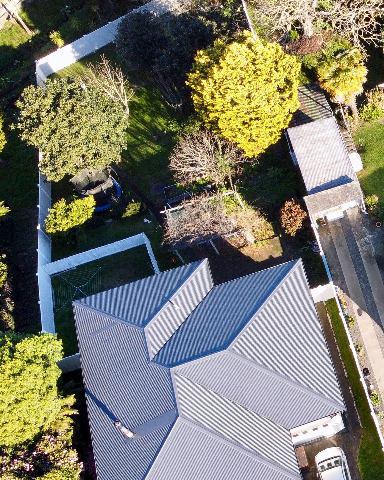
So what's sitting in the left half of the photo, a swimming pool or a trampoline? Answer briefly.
trampoline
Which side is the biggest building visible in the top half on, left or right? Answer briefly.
right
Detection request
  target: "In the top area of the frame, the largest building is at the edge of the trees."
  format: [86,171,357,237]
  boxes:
[287,117,369,236]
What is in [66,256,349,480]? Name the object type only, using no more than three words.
house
